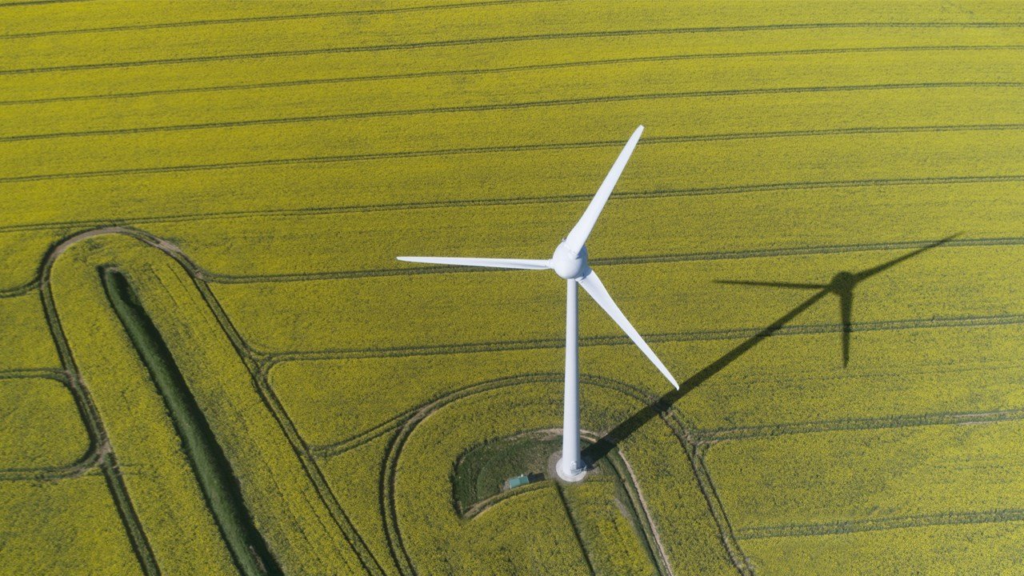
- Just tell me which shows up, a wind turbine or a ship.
wind turbine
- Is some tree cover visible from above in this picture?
No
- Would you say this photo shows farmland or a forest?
farmland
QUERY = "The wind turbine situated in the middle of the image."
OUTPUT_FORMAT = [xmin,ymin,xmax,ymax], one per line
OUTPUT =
[397,121,680,482]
